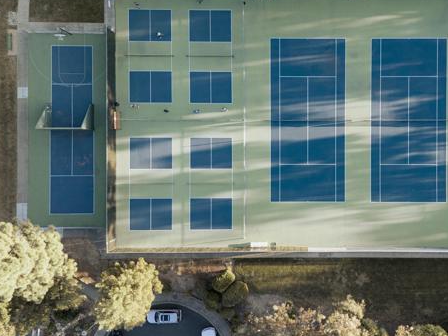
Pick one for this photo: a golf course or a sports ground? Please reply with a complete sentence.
What you see here is a sports ground.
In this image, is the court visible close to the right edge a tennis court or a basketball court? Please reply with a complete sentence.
Looking closely, the court visible close to the right edge is a tennis court.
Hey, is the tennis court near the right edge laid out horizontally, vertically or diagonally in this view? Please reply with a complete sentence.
The tennis court near the right edge has been laid out vertically relative to the frame.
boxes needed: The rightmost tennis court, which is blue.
[372,39,447,201]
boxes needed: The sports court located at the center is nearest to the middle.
[189,139,232,230]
